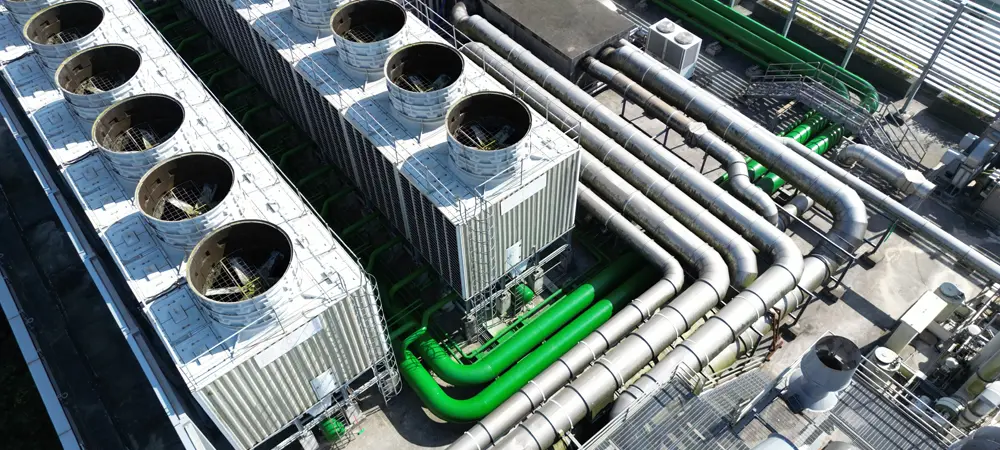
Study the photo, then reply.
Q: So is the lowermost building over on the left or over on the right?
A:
left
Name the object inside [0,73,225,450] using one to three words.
building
